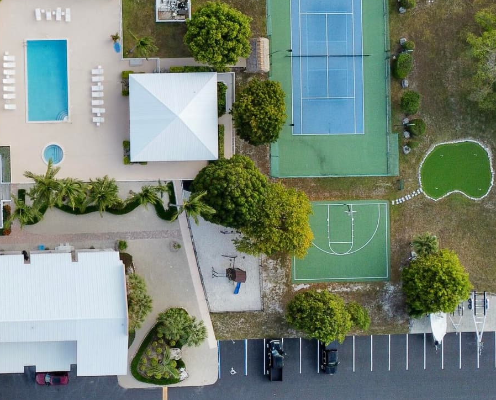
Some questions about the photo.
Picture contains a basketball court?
Yes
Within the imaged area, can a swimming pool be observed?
Yes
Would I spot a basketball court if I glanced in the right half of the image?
Yes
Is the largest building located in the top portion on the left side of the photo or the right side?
left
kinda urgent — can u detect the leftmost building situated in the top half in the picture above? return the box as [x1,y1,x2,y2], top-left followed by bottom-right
[128,72,218,161]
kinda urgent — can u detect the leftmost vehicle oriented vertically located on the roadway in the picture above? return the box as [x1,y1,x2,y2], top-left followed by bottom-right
[267,339,285,380]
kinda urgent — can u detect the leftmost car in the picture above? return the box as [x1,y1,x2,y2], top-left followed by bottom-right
[35,371,68,387]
